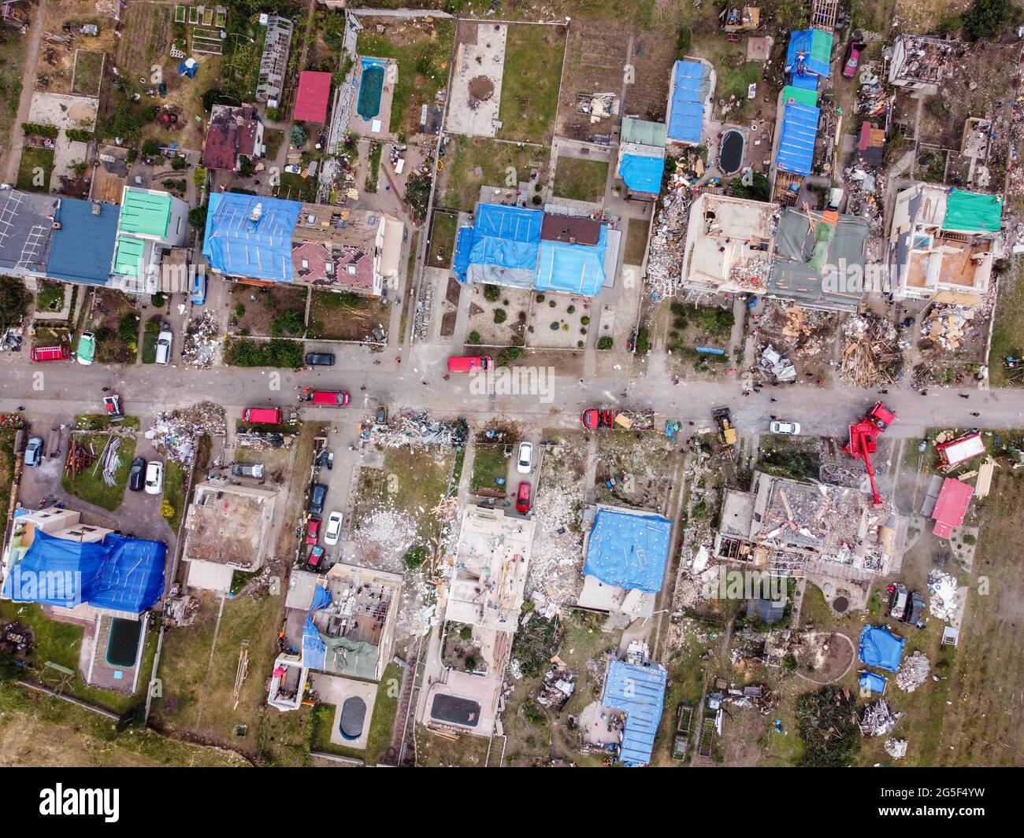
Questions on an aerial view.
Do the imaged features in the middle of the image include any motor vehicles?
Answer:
Yes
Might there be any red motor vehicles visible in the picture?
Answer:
Yes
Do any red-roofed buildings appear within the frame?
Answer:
Yes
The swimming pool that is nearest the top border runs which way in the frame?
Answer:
vertically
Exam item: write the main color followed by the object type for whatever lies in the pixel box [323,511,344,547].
white car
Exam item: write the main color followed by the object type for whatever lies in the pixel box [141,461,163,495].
white car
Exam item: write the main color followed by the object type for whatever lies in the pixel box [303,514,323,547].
red car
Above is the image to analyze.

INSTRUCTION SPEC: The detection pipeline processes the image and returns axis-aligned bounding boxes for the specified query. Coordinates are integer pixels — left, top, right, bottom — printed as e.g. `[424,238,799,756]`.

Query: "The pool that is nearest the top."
[357,59,388,121]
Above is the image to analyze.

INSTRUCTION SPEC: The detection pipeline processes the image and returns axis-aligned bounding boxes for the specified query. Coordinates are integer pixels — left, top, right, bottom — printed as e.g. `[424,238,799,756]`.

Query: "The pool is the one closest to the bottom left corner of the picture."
[104,617,142,669]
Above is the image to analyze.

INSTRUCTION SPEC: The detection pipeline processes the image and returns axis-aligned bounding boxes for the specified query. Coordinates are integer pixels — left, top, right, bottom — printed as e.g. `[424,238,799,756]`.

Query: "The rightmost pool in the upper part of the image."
[719,126,747,174]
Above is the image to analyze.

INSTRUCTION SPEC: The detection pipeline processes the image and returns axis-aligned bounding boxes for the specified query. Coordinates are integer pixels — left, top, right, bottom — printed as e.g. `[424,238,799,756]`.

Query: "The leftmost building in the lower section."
[0,504,179,621]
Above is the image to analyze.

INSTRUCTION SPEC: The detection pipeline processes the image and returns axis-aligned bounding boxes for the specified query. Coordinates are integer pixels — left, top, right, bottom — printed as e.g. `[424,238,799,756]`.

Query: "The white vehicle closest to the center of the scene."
[516,441,534,475]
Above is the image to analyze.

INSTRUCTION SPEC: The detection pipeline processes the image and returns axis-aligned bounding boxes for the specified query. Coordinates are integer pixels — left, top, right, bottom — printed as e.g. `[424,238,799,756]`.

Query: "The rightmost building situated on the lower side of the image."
[913,475,973,538]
